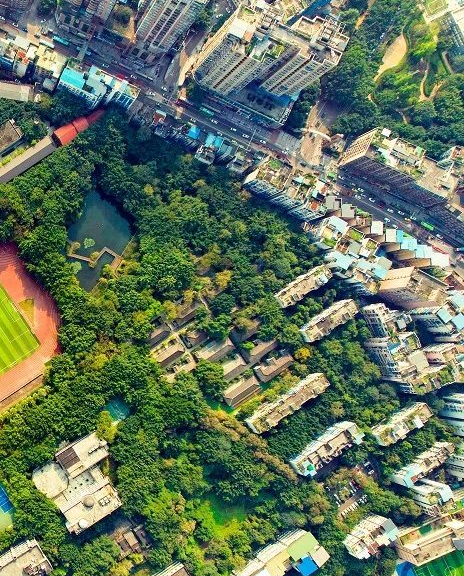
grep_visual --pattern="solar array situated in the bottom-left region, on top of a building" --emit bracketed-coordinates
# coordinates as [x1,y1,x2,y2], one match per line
[57,447,80,470]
